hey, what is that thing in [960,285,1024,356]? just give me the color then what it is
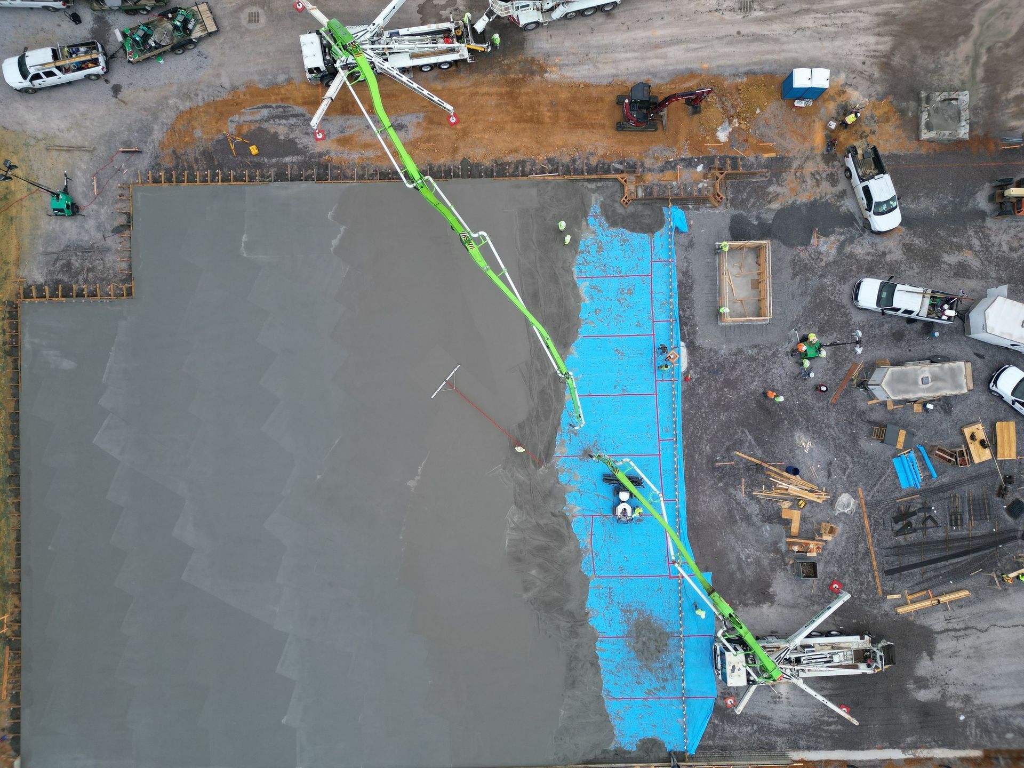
white trailer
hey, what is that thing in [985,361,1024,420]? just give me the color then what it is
white car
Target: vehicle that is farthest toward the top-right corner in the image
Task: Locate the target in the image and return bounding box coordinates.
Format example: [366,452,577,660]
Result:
[978,176,1024,219]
